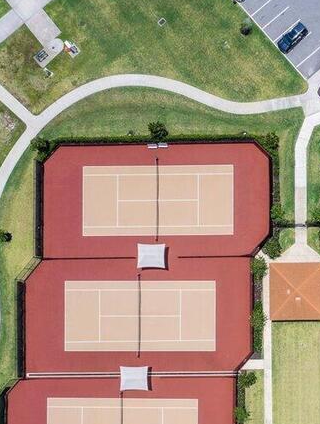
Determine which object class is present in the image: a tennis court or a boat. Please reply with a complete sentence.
This aerial view contains a tennis court.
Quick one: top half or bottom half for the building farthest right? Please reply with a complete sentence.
The bottom half of the photo is where the building farthest right is.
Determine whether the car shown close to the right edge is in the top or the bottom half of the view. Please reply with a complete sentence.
It is in the top half that the car shown close to the right edge appears.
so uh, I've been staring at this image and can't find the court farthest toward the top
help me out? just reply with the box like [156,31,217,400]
[42,142,268,257]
